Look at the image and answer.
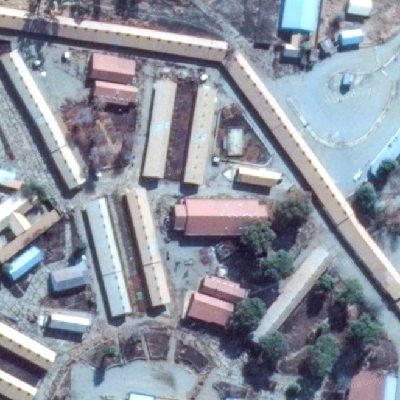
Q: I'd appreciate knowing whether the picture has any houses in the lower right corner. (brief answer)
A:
Yes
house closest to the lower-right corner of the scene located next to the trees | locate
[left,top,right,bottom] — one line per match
[349,372,397,400]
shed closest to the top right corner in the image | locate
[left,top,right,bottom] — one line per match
[347,0,372,16]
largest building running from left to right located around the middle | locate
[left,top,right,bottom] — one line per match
[174,199,268,235]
